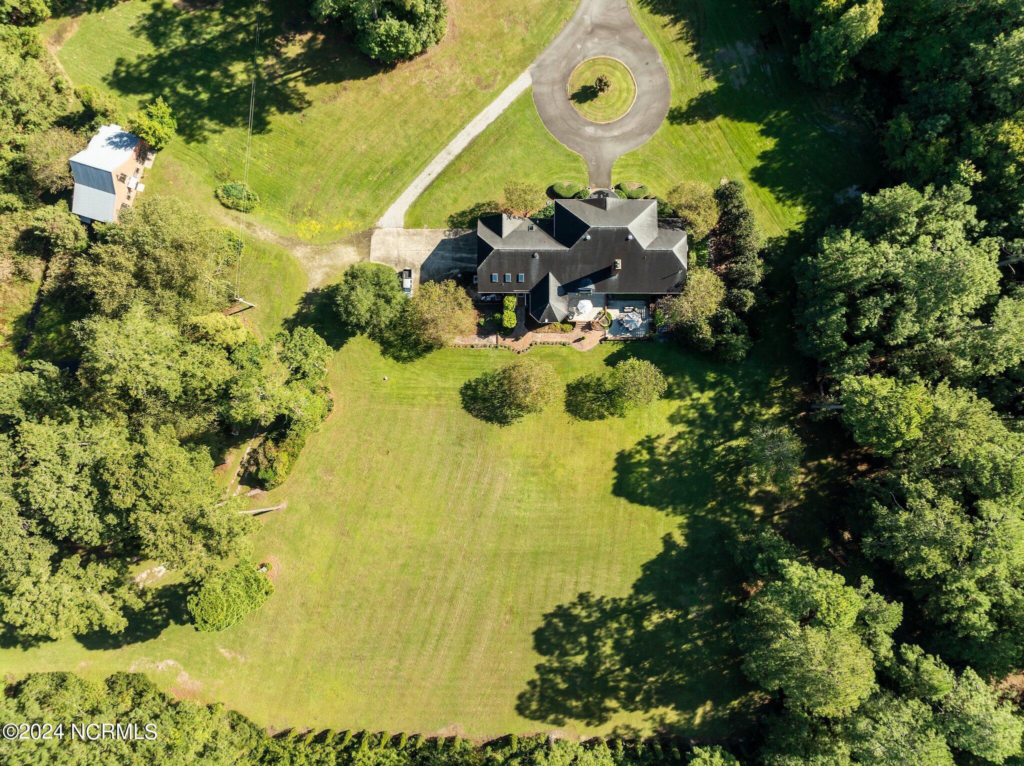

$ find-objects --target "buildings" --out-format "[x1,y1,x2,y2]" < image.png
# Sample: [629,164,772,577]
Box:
[68,126,164,223]
[477,194,687,323]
